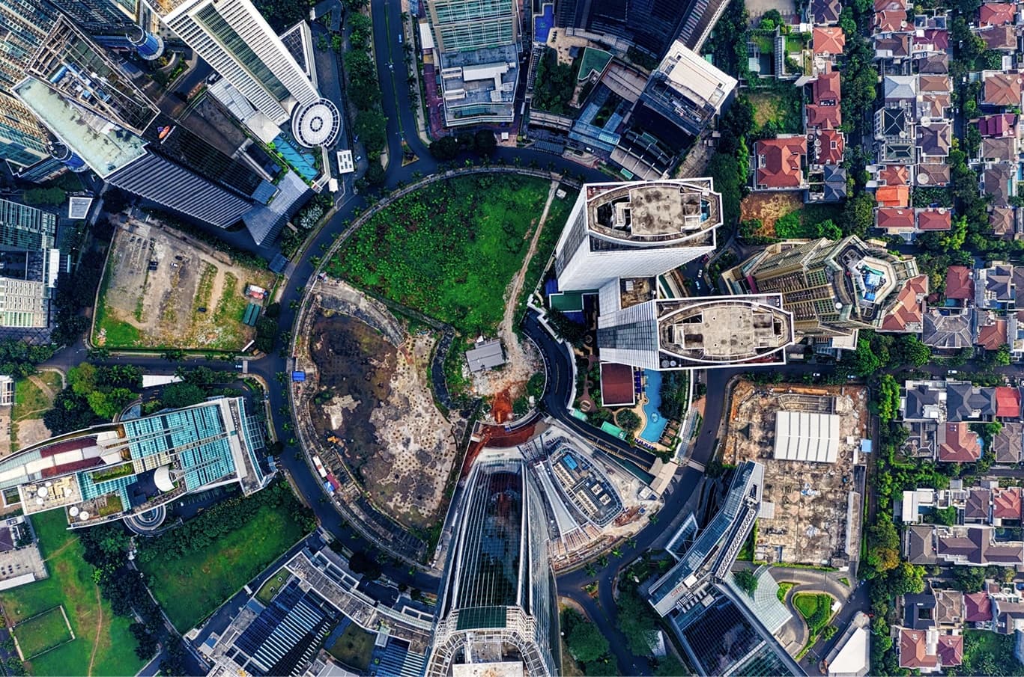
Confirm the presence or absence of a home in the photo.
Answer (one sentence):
Yes, a home appears in the view.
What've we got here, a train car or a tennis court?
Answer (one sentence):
Of the two, only a tennis court appears.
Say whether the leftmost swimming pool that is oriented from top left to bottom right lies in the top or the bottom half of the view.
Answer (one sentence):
You can find the leftmost swimming pool that is oriented from top left to bottom right in the top half.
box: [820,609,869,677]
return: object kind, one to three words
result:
building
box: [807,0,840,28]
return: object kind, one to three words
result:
house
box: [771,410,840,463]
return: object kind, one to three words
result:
tent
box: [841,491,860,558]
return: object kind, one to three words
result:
shed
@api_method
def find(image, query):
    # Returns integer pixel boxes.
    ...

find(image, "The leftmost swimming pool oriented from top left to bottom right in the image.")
[273,135,318,180]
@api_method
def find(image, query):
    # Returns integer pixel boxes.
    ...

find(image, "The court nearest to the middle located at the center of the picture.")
[547,277,599,326]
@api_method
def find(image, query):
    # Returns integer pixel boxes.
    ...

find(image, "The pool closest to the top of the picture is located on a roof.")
[534,3,554,42]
